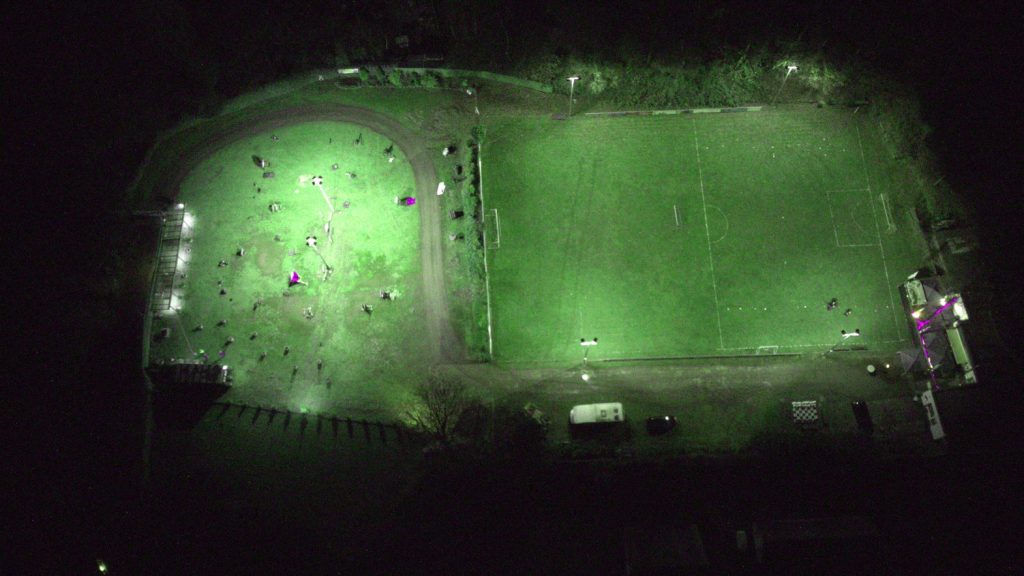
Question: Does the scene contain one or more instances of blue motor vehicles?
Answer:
No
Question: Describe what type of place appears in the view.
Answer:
sports ground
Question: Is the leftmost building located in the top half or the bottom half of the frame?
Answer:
bottom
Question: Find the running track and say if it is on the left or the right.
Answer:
left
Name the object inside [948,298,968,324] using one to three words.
building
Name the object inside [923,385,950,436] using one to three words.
trailer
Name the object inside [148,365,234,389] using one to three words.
building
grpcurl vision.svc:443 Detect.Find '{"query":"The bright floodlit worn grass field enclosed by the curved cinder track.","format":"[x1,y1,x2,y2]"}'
[148,122,469,436]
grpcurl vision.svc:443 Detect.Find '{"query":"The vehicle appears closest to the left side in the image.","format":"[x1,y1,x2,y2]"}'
[568,402,625,427]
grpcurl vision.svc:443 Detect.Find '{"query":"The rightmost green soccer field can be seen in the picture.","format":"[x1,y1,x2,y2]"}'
[482,107,906,364]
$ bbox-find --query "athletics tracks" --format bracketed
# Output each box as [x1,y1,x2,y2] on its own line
[160,100,449,367]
